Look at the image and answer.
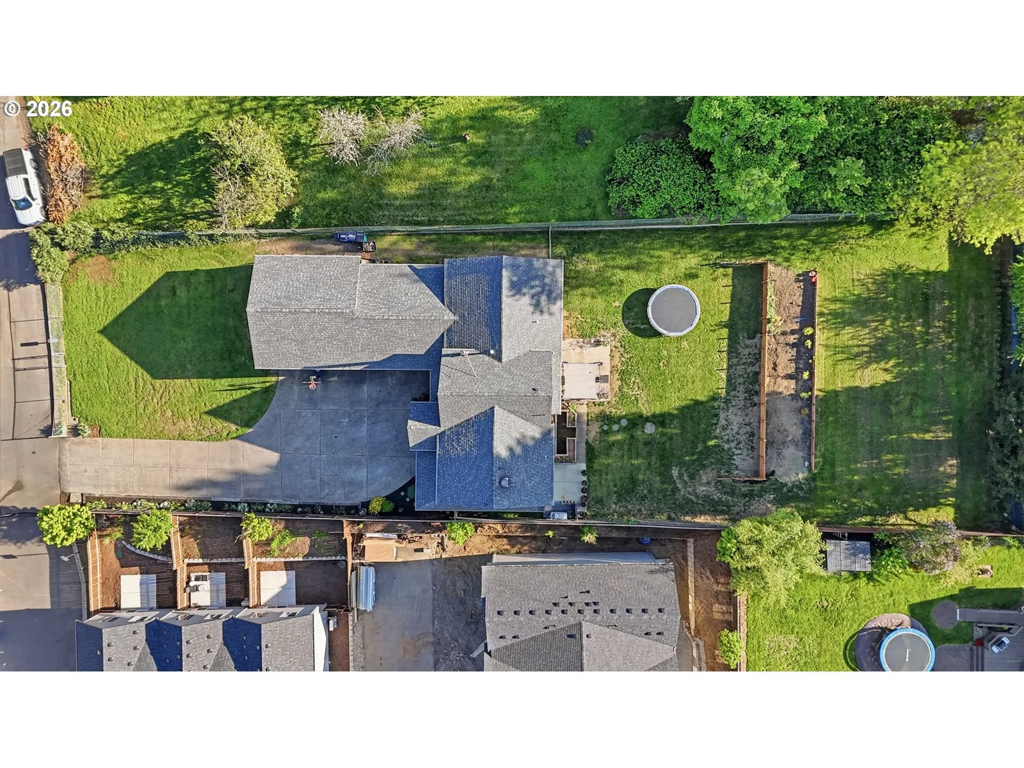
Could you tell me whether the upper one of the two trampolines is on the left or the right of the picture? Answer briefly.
right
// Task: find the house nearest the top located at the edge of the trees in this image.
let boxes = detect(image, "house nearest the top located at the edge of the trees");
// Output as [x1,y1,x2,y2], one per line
[246,253,565,514]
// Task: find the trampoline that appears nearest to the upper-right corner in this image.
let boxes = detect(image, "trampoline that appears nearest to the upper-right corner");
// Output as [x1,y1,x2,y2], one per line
[647,284,700,337]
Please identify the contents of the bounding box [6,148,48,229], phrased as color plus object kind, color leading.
white truck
